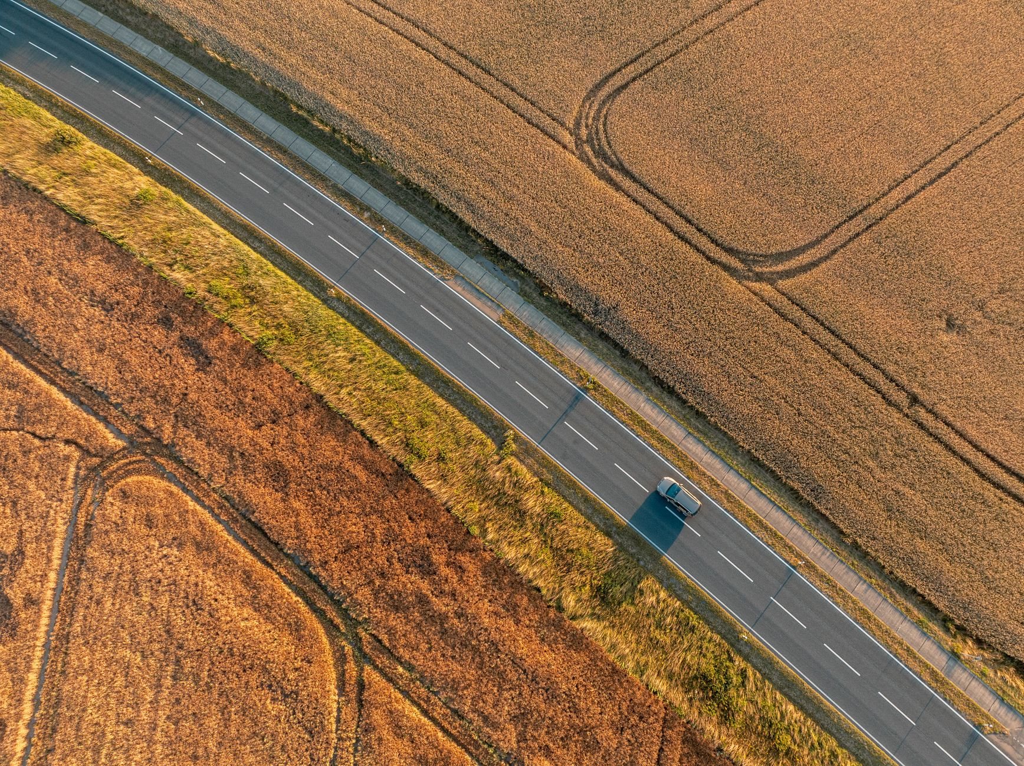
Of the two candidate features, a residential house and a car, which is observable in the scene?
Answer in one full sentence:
This aerial view contains a car.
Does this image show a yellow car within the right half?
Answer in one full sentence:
No, I see no yellow car within the right half.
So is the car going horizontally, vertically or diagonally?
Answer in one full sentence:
In this picture, the car is oriented diagonally.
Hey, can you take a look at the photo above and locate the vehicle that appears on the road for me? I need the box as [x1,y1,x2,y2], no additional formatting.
[657,476,704,518]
